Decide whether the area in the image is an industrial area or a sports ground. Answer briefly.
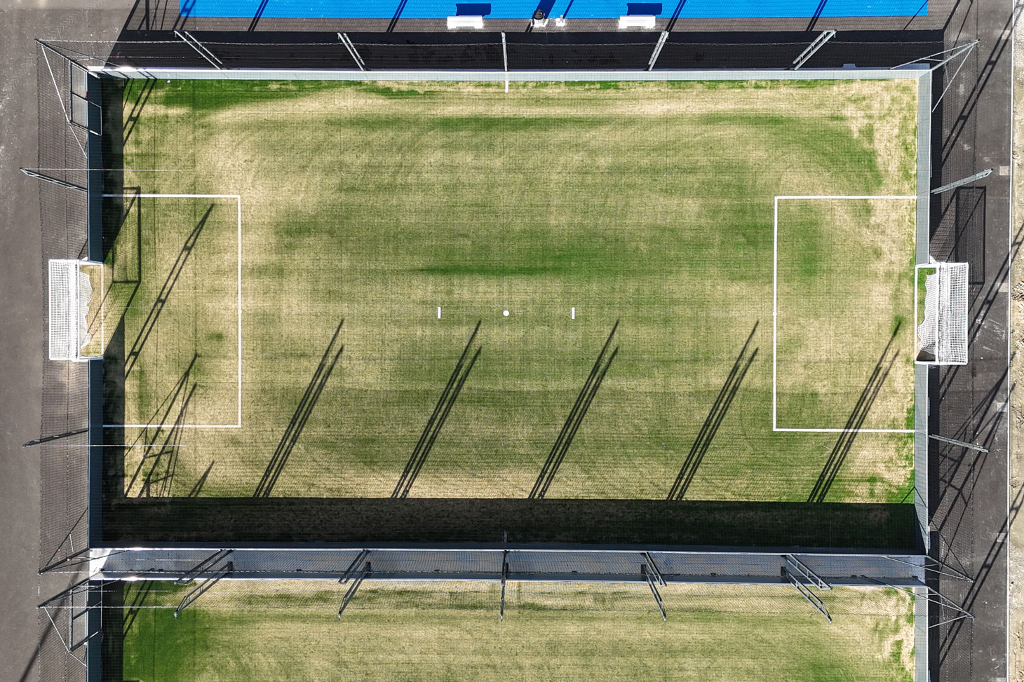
sports ground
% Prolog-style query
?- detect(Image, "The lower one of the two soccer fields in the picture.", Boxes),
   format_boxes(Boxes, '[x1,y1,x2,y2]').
[102,580,913,682]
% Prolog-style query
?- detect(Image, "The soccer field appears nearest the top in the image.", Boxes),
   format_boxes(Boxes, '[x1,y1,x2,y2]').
[74,79,944,547]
